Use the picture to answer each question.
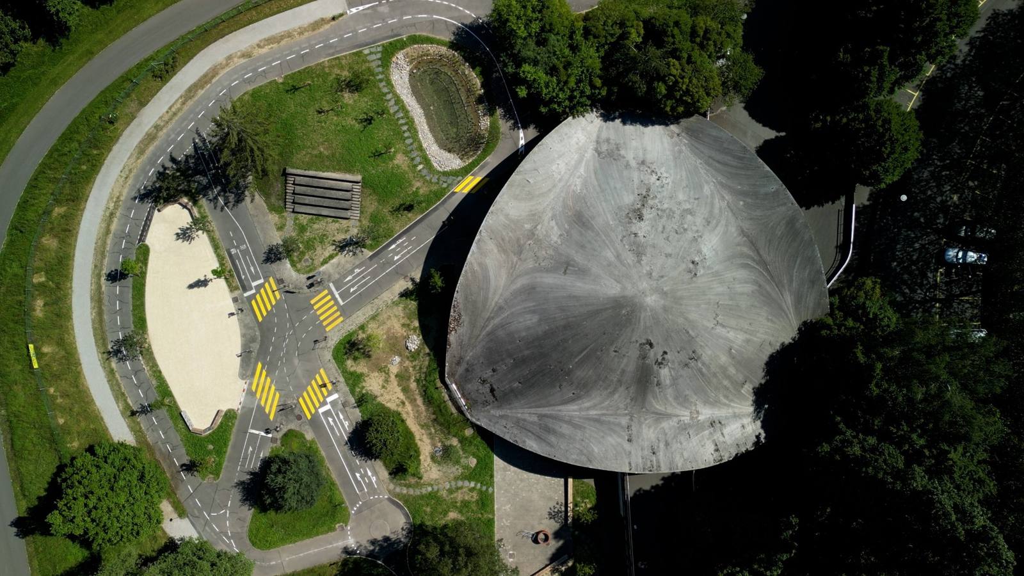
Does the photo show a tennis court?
No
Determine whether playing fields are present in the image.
Yes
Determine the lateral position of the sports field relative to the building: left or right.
to the left of it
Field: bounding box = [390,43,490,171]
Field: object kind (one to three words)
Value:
pond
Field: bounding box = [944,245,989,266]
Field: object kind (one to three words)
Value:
car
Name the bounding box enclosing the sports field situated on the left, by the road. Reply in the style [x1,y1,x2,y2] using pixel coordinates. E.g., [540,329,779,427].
[144,205,247,430]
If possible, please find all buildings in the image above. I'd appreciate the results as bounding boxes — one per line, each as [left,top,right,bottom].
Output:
[445,98,836,475]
